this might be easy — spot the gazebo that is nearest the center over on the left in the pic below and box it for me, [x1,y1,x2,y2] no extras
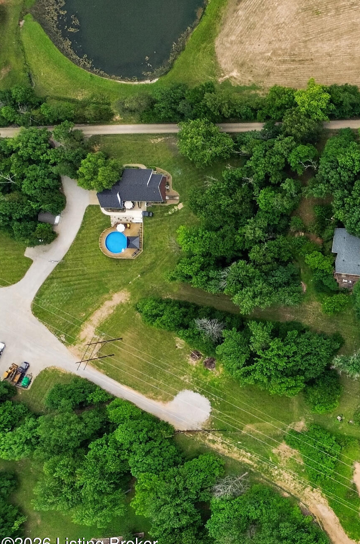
[127,236,143,249]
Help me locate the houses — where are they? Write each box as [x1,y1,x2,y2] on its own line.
[333,228,360,276]
[97,169,166,208]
